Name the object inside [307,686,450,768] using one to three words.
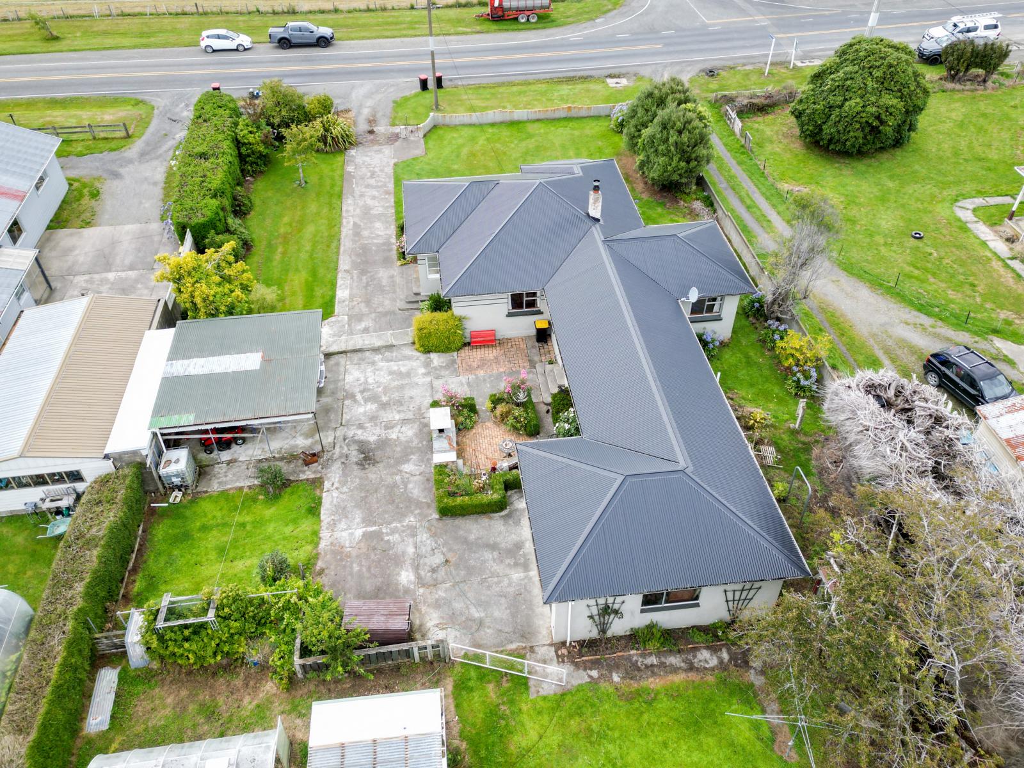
shed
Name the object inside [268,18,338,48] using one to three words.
truck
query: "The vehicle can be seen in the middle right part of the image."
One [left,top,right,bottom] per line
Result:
[917,341,1024,418]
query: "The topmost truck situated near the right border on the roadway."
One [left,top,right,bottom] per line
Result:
[923,13,1002,43]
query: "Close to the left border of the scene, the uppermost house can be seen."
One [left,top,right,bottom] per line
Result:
[0,123,69,248]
